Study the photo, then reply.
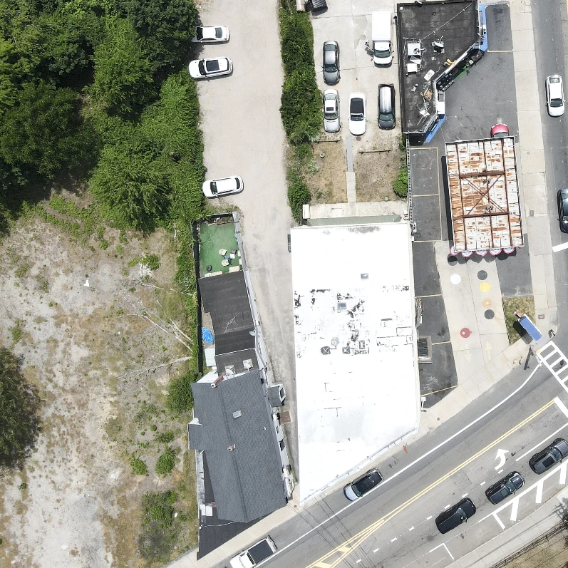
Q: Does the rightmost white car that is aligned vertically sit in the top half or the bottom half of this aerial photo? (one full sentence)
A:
The rightmost white car that is aligned vertically sits in the top half of the picture.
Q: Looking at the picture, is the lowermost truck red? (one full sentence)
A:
No, the color of the lowermost truck is white.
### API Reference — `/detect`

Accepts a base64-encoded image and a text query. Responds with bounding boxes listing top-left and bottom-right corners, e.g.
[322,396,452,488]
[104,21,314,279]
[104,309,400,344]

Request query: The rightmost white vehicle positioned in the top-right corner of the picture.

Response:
[546,75,568,117]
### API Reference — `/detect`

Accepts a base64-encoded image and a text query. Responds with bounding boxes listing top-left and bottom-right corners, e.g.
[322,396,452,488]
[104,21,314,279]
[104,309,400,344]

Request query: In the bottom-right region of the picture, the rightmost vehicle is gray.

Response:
[527,439,568,475]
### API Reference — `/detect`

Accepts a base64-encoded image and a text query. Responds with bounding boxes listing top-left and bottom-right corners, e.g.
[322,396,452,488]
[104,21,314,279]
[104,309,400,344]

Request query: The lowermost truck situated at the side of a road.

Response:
[229,534,281,568]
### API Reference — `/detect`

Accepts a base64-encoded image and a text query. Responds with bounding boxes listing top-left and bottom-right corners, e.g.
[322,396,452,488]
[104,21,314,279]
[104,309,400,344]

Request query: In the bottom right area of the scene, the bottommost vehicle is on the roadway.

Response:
[434,500,478,536]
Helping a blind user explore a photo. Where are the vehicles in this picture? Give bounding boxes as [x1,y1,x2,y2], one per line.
[527,439,568,475]
[434,500,478,536]
[546,75,568,117]
[322,88,341,134]
[557,188,568,234]
[229,534,281,568]
[192,23,231,45]
[484,471,526,505]
[341,466,385,502]
[203,175,245,197]
[376,82,398,131]
[322,40,341,86]
[364,5,395,68]
[188,56,234,78]
[347,92,368,137]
